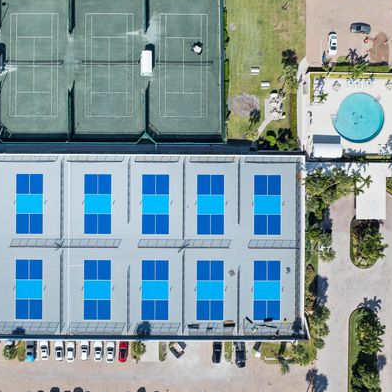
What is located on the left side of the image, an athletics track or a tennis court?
tennis court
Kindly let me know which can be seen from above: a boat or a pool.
pool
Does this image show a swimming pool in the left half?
No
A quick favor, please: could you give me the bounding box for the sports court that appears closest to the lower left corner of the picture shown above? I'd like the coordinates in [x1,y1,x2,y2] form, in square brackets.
[13,259,45,319]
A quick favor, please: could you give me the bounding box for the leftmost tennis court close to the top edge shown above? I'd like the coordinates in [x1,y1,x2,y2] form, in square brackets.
[0,0,71,143]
